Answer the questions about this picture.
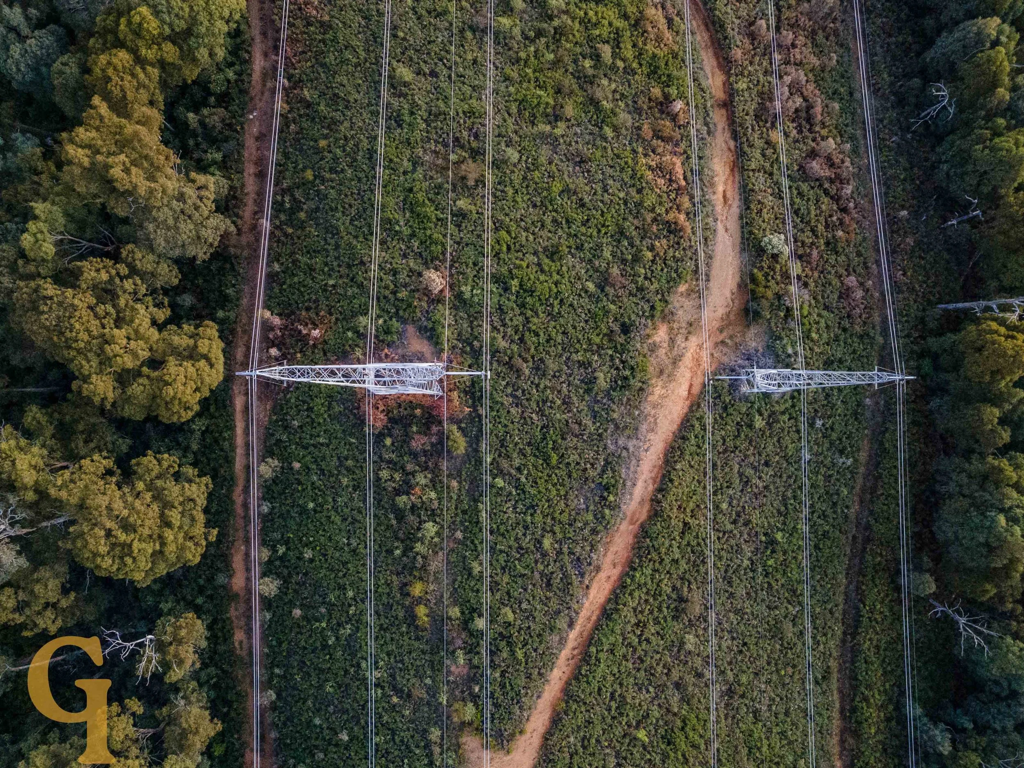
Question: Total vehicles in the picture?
0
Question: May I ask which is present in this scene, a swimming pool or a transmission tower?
transmission tower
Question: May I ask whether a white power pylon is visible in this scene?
Yes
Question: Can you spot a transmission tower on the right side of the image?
Yes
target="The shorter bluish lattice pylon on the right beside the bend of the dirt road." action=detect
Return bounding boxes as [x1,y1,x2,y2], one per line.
[706,363,921,392]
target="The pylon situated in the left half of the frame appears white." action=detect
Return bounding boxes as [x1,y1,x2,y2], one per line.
[236,355,488,395]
